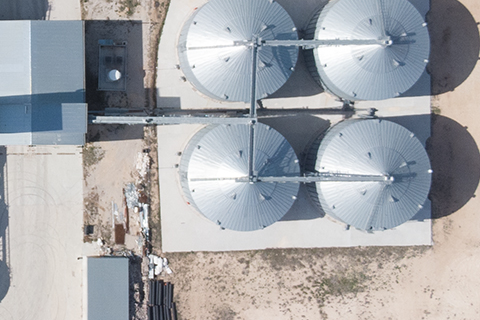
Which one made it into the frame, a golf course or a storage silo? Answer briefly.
storage silo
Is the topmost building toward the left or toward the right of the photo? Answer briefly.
left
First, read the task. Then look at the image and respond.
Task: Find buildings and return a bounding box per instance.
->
[80,254,129,320]
[0,19,87,146]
